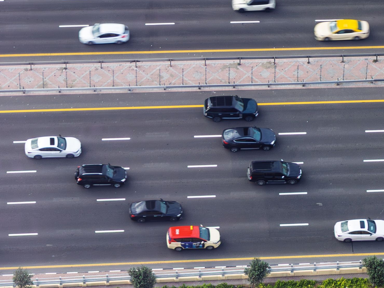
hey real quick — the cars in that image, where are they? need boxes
[203,96,258,122]
[246,160,303,187]
[315,18,369,41]
[165,225,222,253]
[25,134,82,160]
[128,197,184,223]
[79,22,129,45]
[72,163,128,189]
[232,0,275,13]
[221,125,278,152]
[334,217,384,243]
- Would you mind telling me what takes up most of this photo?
paved ground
